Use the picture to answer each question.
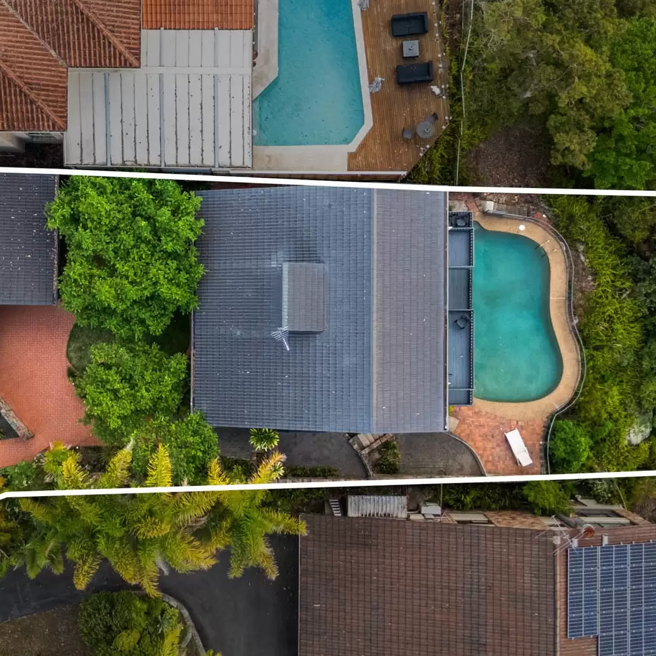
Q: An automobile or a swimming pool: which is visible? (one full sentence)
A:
Visible in the photo is a swimming pool.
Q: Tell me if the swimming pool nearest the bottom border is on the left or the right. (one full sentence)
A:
The swimming pool nearest the bottom border sits on the right side.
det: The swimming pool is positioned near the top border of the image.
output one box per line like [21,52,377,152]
[254,0,372,155]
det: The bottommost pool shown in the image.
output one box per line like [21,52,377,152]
[450,208,580,421]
